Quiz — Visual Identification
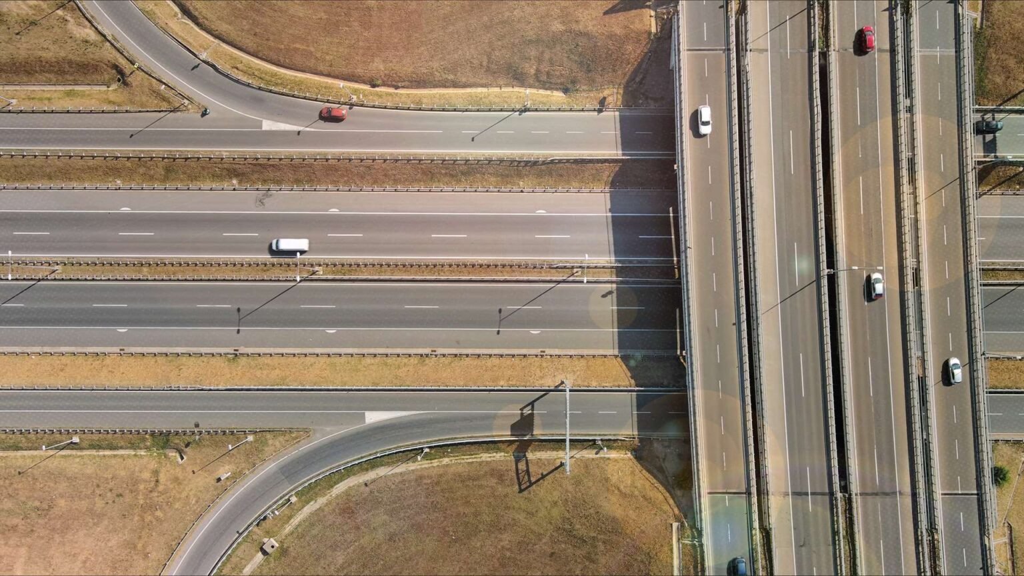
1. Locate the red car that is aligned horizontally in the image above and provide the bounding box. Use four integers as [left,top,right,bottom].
[320,107,348,120]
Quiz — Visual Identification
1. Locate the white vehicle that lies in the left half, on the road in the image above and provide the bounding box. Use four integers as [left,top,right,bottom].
[272,238,309,253]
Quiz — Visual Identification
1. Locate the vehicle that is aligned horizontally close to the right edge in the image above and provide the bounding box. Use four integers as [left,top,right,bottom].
[973,121,1004,134]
